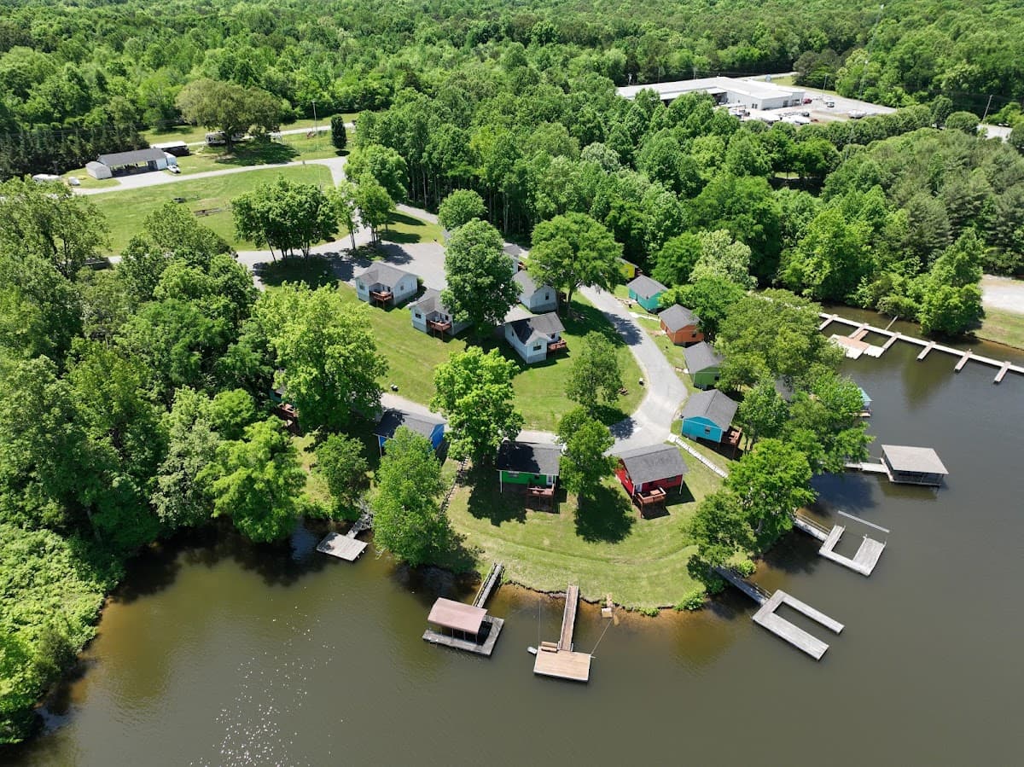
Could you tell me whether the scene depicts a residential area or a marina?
marina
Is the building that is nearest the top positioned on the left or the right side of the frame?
right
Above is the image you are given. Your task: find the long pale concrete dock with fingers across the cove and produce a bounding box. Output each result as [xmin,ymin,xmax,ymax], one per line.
[741,290,1024,386]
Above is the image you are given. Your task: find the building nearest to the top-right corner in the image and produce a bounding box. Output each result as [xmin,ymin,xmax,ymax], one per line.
[624,79,814,112]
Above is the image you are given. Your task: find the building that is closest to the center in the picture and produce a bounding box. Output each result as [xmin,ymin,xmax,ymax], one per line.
[494,313,566,364]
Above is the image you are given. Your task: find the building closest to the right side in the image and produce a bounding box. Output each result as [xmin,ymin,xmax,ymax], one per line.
[879,444,948,489]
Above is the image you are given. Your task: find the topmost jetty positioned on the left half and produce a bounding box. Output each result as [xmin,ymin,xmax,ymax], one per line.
[317,504,373,562]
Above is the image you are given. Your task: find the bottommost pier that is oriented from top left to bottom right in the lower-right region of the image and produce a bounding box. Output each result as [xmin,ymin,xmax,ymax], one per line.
[719,564,844,660]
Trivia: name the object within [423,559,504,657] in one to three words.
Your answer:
pier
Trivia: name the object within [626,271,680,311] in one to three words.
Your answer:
building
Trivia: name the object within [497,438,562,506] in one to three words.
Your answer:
building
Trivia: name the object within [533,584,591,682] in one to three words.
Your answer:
pier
